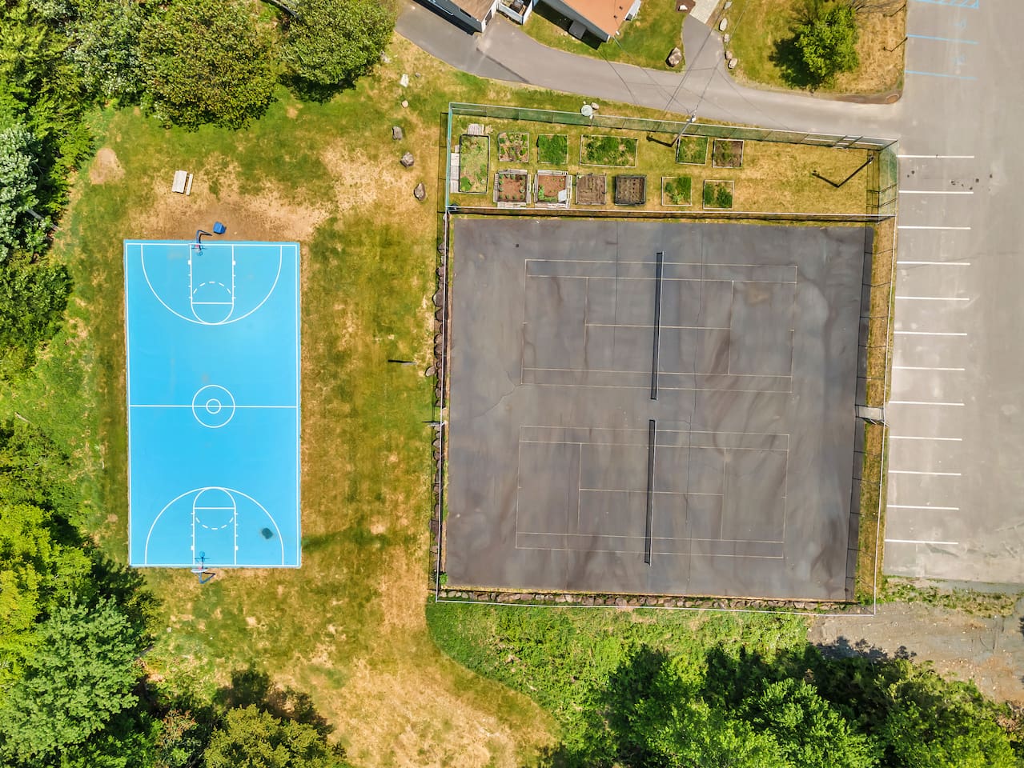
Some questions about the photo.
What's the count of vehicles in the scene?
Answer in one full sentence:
There are no vehicles in the image.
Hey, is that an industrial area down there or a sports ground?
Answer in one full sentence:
This image shows a sports ground.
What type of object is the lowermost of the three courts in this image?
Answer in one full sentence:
In the photo, the lowermost of the three courts shows up as a tennis court.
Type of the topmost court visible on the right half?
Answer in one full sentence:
I'd identify the topmost court visible on the right half as a tennis court.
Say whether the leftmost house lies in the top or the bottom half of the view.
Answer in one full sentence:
Seen from above, the leftmost house lies in the top half of the view.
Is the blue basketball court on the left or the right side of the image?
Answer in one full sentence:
The blue basketball court is on the left side of the image.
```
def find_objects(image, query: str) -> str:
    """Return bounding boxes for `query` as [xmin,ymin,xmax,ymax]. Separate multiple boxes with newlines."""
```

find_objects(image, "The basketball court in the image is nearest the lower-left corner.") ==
[124,240,302,568]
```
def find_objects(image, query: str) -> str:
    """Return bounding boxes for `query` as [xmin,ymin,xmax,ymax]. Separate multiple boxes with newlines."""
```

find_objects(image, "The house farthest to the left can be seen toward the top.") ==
[423,0,498,33]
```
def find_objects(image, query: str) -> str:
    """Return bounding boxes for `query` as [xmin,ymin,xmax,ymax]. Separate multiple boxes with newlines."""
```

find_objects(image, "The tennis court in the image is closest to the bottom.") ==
[445,409,864,601]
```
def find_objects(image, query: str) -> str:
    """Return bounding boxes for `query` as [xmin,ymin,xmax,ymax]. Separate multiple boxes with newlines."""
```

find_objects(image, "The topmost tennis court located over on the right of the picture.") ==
[449,219,873,422]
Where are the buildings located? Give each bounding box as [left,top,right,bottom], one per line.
[538,0,647,42]
[423,0,498,33]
